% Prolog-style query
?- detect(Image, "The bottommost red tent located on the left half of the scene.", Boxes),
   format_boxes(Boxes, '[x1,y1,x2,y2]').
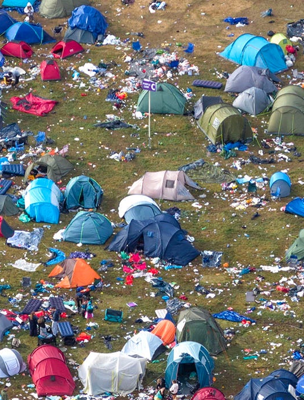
[28,344,75,395]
